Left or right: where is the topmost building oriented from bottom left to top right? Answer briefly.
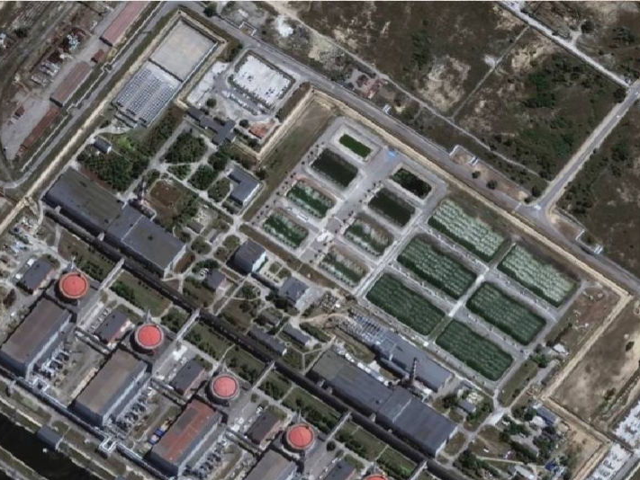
left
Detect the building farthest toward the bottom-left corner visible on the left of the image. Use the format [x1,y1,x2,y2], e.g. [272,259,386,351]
[34,425,70,453]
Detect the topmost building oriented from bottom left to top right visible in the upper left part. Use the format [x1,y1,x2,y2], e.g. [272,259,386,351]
[99,0,147,47]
